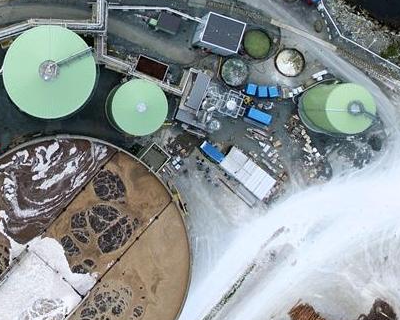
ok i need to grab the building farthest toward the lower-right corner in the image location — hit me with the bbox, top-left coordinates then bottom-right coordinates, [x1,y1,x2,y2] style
[227,157,276,200]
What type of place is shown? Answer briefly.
industrial area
